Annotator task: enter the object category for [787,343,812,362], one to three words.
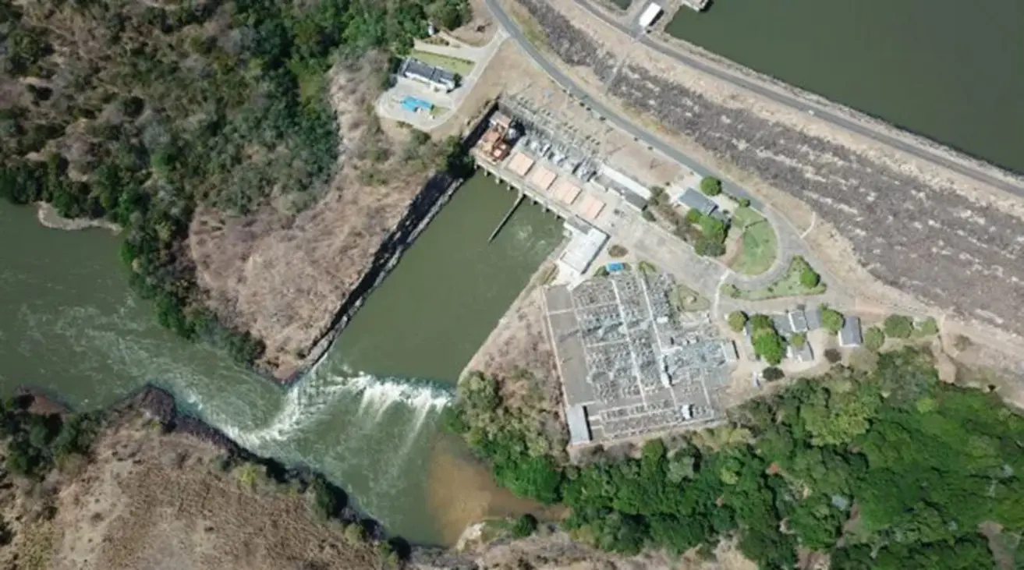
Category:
house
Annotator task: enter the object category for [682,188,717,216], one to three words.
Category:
house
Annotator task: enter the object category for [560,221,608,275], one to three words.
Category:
building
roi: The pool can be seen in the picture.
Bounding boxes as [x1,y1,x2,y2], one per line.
[400,96,436,113]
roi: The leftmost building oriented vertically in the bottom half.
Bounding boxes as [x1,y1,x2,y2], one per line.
[567,405,590,445]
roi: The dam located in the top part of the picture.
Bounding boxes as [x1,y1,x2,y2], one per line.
[524,0,1024,338]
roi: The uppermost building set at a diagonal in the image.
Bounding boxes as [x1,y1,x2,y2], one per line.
[636,1,662,31]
